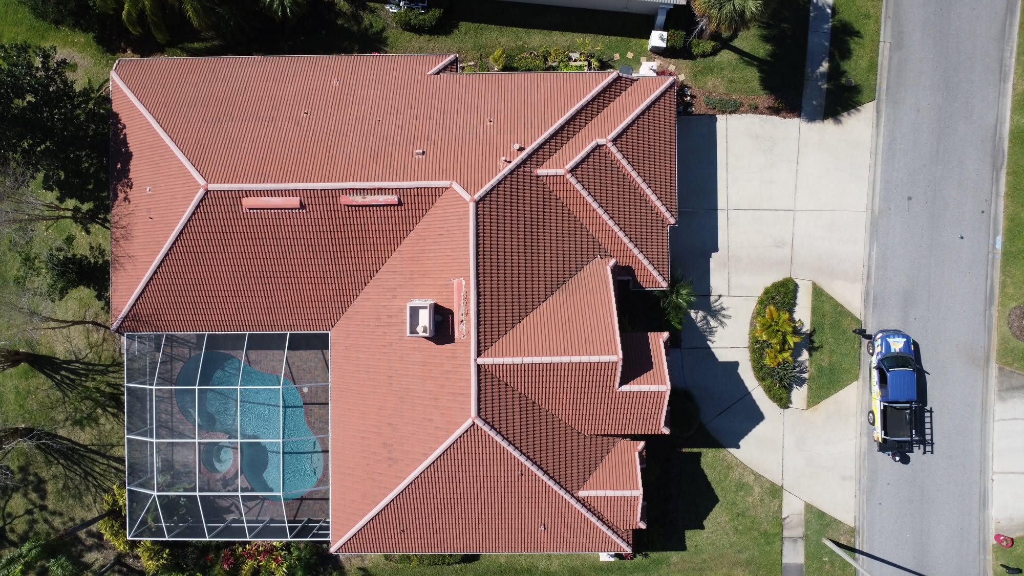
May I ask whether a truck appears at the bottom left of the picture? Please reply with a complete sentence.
No, at the bottom left of the picture there is no truck.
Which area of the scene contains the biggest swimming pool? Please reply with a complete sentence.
Look in the bottom left portion of the view to spot the biggest swimming pool.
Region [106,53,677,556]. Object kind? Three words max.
house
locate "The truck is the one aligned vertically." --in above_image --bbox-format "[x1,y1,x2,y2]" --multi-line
[865,327,922,451]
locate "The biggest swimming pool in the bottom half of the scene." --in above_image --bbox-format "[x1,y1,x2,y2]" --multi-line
[170,346,327,506]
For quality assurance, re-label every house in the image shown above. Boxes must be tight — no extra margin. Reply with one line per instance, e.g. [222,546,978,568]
[106,53,677,556]
[489,0,662,13]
